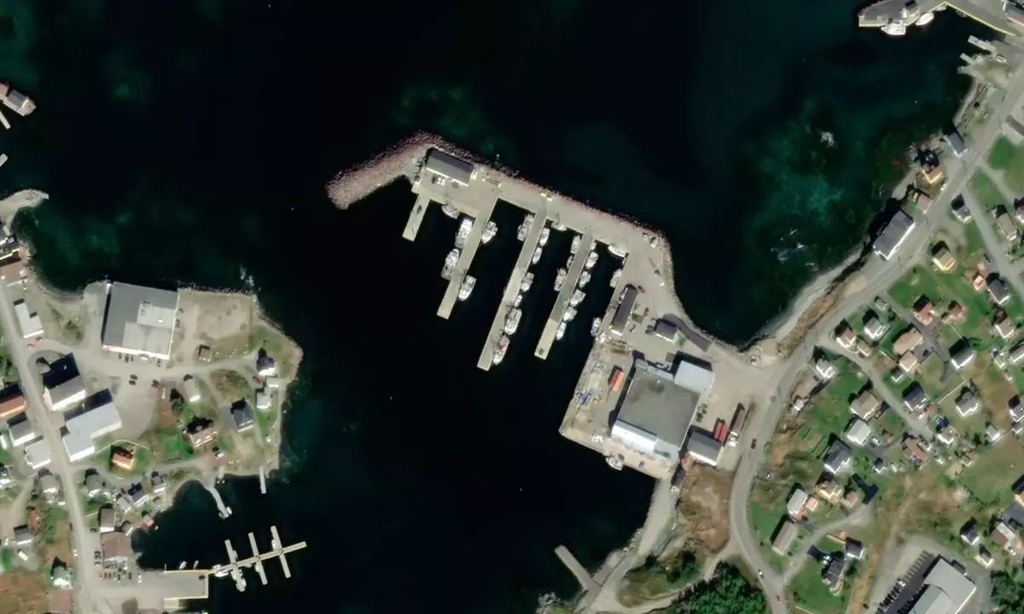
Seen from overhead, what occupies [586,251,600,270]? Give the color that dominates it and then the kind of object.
white boat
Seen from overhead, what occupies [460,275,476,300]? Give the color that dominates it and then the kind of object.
white boat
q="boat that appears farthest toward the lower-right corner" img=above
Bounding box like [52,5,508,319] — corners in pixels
[607,456,625,470]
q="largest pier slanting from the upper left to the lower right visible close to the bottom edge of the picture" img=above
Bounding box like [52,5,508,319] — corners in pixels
[555,545,594,591]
